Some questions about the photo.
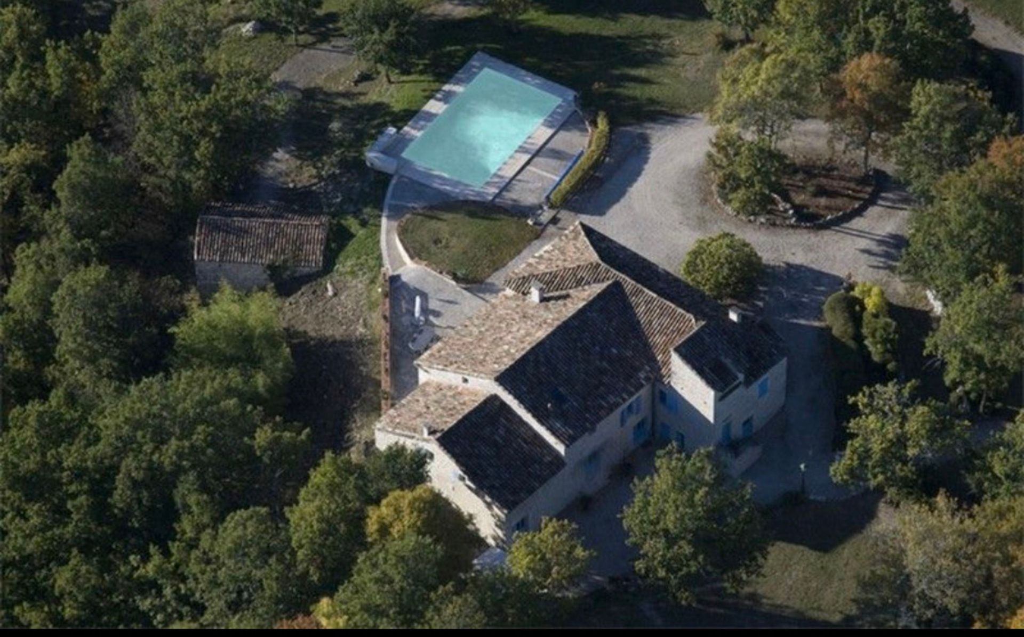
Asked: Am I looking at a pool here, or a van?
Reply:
pool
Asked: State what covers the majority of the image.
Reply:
trees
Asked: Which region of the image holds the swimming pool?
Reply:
top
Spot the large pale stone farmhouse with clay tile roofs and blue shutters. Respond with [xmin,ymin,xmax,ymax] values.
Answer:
[369,221,788,547]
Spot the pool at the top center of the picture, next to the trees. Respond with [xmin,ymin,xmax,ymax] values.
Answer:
[370,51,580,204]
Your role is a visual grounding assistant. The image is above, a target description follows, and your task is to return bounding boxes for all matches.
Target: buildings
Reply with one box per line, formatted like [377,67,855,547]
[193,199,332,291]
[369,221,788,547]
